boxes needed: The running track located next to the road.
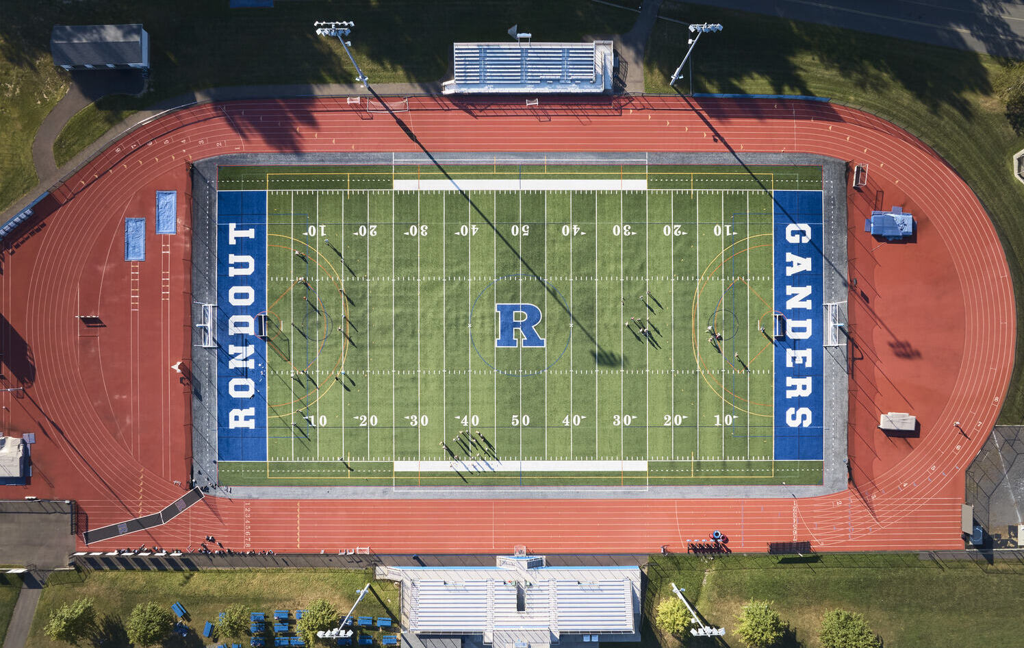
[0,97,1017,553]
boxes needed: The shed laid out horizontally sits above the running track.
[48,26,155,75]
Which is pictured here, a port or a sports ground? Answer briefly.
sports ground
